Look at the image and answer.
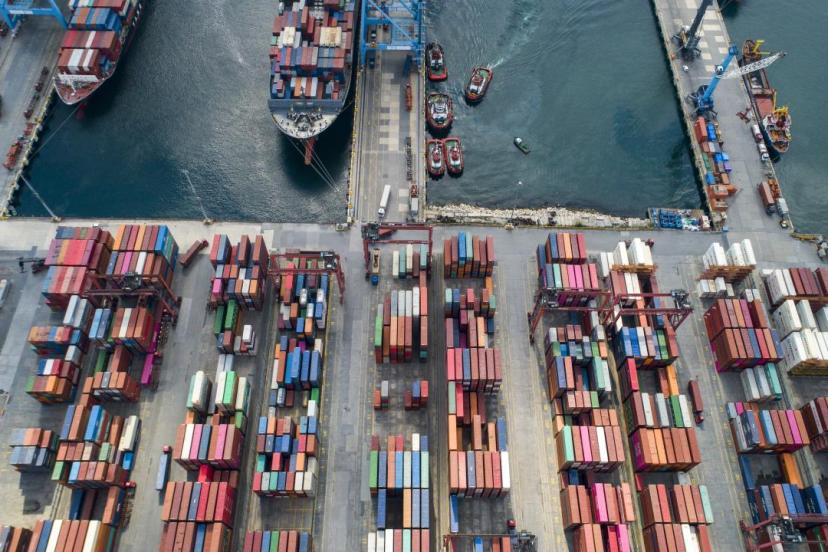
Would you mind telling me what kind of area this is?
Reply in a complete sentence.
The area seen from above is a port.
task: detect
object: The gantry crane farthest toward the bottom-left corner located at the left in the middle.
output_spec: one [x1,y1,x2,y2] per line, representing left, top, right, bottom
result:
[82,272,180,326]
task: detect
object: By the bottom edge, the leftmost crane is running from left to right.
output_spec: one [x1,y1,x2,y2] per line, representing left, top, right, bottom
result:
[440,526,537,552]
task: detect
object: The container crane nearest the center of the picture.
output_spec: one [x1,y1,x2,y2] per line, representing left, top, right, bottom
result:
[361,222,437,276]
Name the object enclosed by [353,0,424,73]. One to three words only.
container crane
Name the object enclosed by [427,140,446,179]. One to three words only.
boat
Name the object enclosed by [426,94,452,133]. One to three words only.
boat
